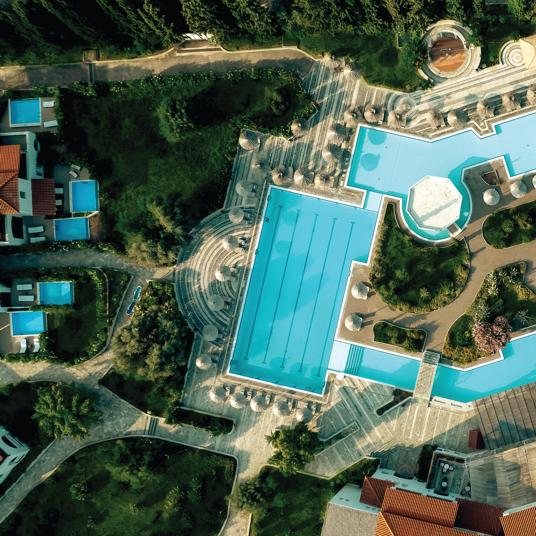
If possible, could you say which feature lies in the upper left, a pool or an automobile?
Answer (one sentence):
The feature located in the upper left is a pool.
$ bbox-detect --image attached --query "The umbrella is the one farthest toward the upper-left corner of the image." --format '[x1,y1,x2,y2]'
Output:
[239,130,258,150]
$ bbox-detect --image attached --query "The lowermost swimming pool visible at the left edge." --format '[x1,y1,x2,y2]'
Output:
[9,309,47,338]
